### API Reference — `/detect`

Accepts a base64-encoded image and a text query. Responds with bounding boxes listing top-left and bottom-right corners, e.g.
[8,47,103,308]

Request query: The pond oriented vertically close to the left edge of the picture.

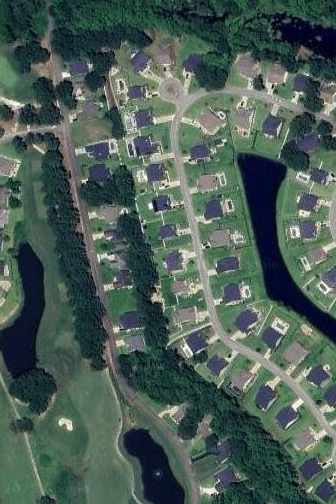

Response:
[0,243,46,379]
